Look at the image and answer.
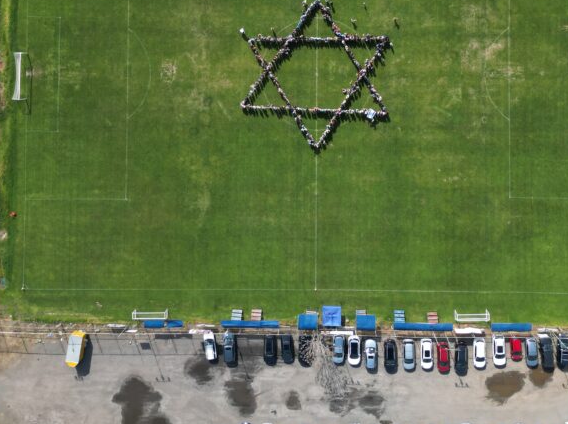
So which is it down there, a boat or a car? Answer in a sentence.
There is a car in the scene.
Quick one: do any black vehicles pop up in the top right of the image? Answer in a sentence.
No, I see no black vehicle in the top right of the image.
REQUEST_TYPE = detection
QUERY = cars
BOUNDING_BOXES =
[280,334,295,365]
[455,343,470,375]
[473,339,488,367]
[298,335,313,367]
[558,335,568,371]
[262,335,276,367]
[402,338,417,370]
[202,332,217,361]
[363,338,378,371]
[493,335,509,367]
[347,337,361,365]
[332,335,346,365]
[526,337,541,368]
[437,341,451,372]
[511,337,525,363]
[540,336,558,371]
[420,338,435,370]
[384,340,399,372]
